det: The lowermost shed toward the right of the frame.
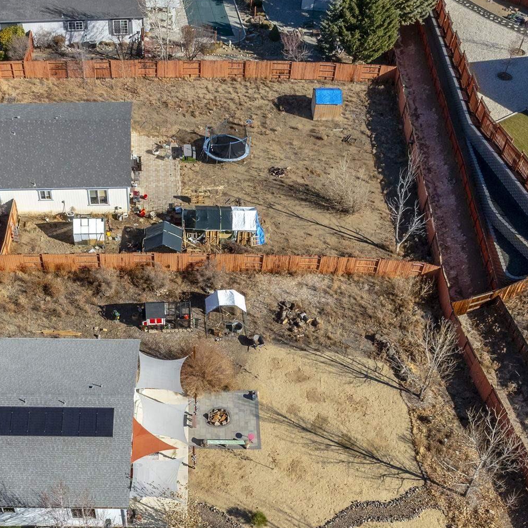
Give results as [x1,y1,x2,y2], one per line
[311,87,345,119]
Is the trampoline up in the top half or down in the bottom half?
top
